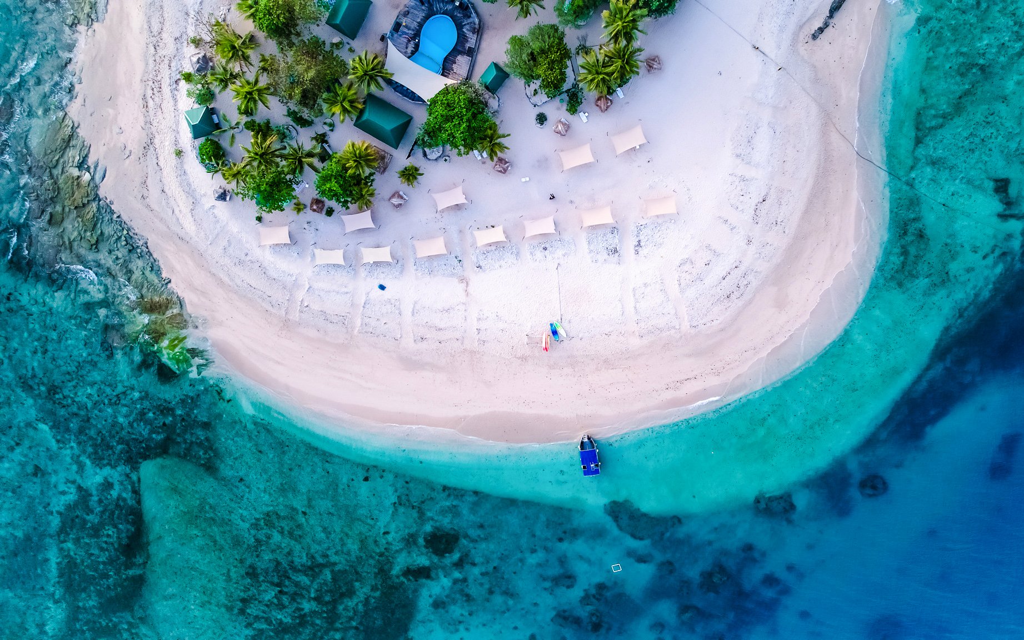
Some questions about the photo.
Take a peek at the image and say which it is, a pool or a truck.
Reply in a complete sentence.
Visible in the photo is a pool.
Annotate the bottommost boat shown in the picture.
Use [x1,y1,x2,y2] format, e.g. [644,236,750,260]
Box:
[578,431,601,477]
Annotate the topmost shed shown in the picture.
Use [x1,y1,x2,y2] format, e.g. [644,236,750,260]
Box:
[329,0,373,40]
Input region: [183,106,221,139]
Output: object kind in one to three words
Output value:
shed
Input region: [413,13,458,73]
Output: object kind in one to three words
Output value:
swimming pool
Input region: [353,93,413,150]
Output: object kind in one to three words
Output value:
shed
